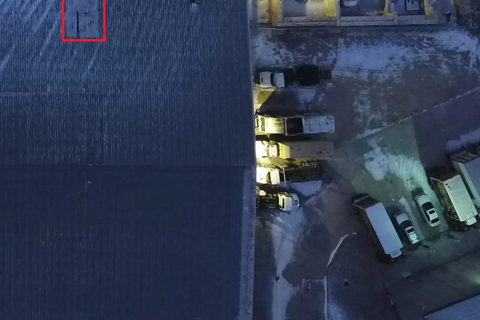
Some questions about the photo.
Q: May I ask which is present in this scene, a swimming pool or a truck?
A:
truck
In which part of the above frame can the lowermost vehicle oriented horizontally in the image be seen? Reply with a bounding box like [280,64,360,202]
[255,187,300,211]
